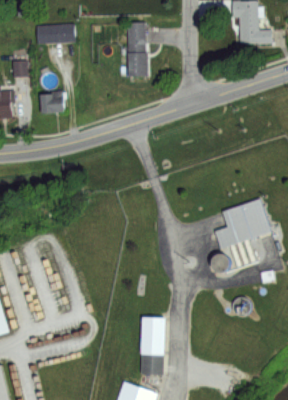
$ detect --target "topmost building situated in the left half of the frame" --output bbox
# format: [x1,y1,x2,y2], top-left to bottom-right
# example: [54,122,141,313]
[38,24,77,45]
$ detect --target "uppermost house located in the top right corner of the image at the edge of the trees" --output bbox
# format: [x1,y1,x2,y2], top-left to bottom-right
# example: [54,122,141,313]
[234,0,274,46]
